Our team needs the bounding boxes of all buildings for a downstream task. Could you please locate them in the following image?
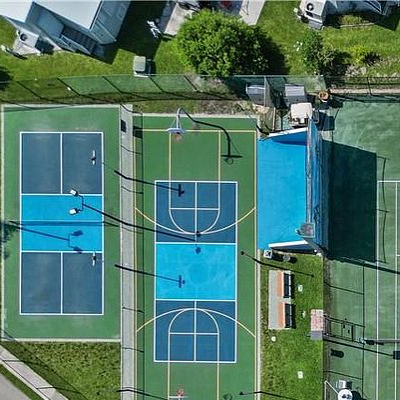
[322,0,400,15]
[37,0,151,57]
